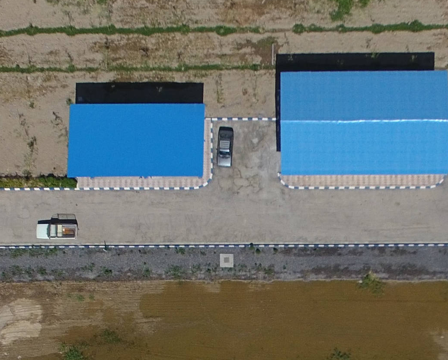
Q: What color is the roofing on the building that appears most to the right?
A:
blue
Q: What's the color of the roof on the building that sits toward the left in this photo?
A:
blue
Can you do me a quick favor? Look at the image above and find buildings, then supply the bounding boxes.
[281,70,448,176]
[67,104,207,179]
